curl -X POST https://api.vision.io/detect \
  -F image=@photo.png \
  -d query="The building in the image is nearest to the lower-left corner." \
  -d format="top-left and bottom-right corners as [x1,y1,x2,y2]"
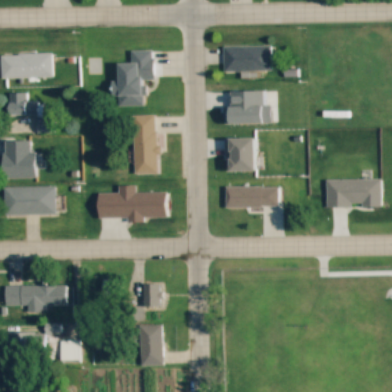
[16,332,46,350]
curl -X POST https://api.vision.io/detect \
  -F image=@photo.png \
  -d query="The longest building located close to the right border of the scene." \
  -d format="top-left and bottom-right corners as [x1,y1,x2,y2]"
[327,180,384,208]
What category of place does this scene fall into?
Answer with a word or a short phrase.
residential area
